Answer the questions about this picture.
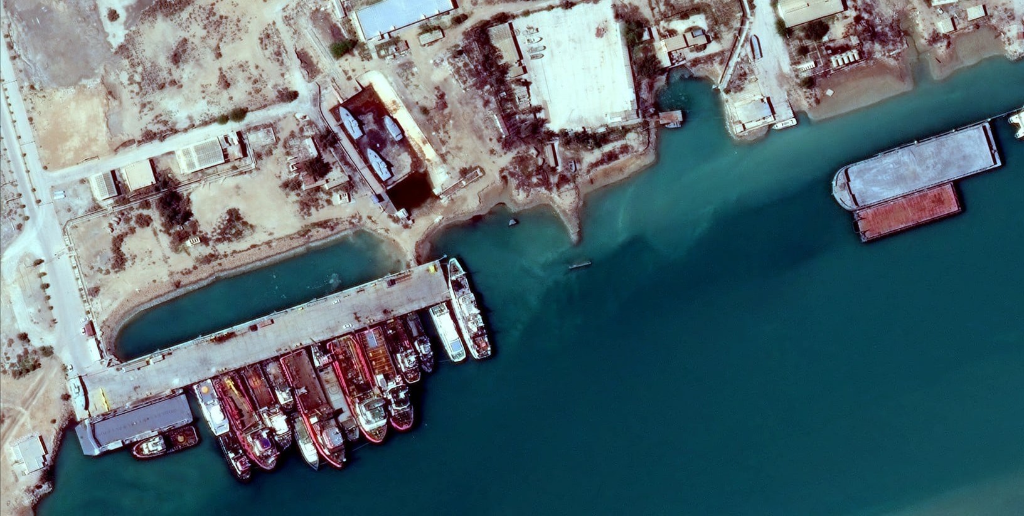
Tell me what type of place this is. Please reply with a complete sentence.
What you see here is a port.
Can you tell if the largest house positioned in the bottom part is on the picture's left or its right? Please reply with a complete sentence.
You can find the largest house positioned in the bottom part on the left side of the picture.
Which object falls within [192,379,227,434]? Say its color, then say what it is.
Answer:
white boat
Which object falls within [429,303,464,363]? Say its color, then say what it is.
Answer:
white ship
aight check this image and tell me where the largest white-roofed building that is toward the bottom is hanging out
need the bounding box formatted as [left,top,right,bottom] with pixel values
[17,437,45,473]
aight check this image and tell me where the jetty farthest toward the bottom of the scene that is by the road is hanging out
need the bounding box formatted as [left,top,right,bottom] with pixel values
[67,255,451,421]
